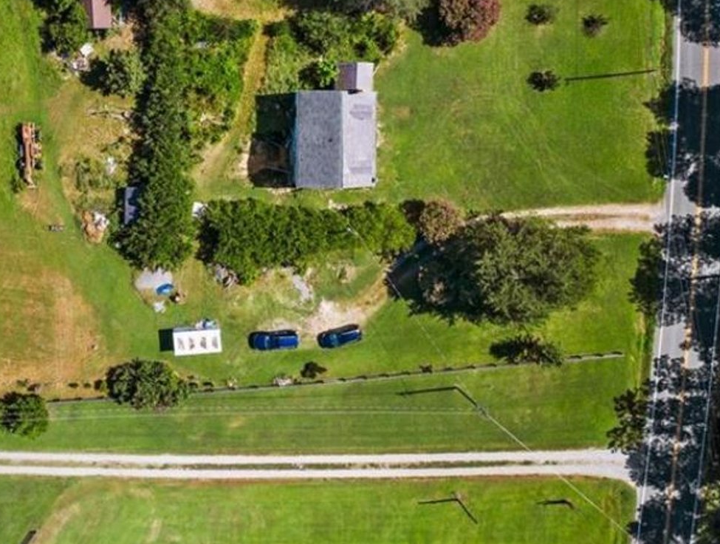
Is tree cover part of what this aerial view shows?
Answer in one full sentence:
Yes, there's tree cover in this view.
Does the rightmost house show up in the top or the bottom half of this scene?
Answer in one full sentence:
You can find the rightmost house in the top half.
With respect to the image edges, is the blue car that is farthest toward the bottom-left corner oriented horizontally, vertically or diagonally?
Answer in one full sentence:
I'd say the blue car that is farthest toward the bottom-left corner is aligned horizontally in the picture.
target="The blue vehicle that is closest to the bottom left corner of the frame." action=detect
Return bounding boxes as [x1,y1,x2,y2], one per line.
[253,332,300,354]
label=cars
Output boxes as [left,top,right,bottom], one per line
[253,332,300,354]
[317,324,366,353]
